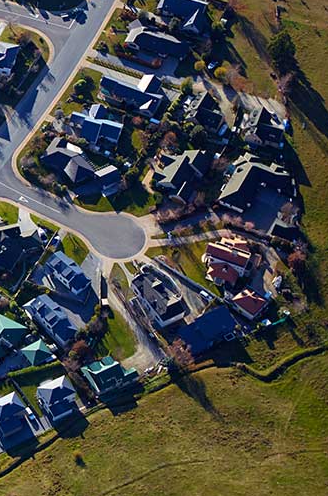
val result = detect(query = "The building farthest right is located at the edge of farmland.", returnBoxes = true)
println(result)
[272,217,300,245]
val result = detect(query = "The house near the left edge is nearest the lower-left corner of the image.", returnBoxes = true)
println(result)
[0,390,36,445]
